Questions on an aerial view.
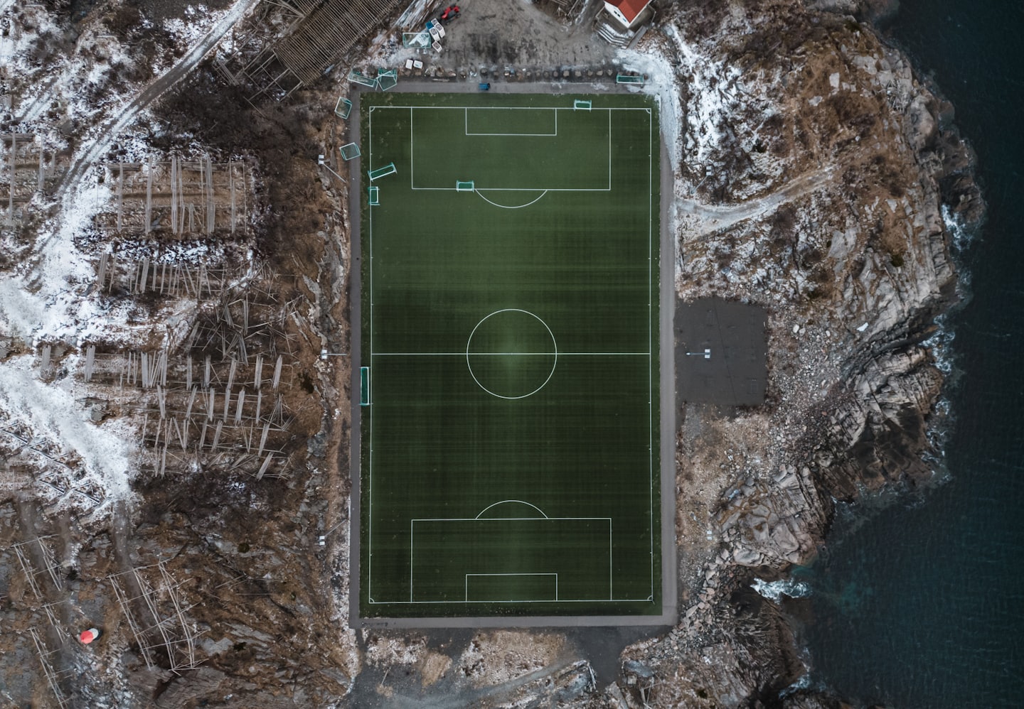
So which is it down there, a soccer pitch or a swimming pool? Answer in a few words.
soccer pitch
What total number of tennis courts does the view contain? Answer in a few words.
zero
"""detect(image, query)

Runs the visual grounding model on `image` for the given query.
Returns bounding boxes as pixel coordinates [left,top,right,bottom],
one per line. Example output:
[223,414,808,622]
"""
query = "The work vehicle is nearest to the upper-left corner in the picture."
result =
[437,0,461,25]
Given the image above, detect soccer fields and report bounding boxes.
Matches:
[359,92,662,617]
